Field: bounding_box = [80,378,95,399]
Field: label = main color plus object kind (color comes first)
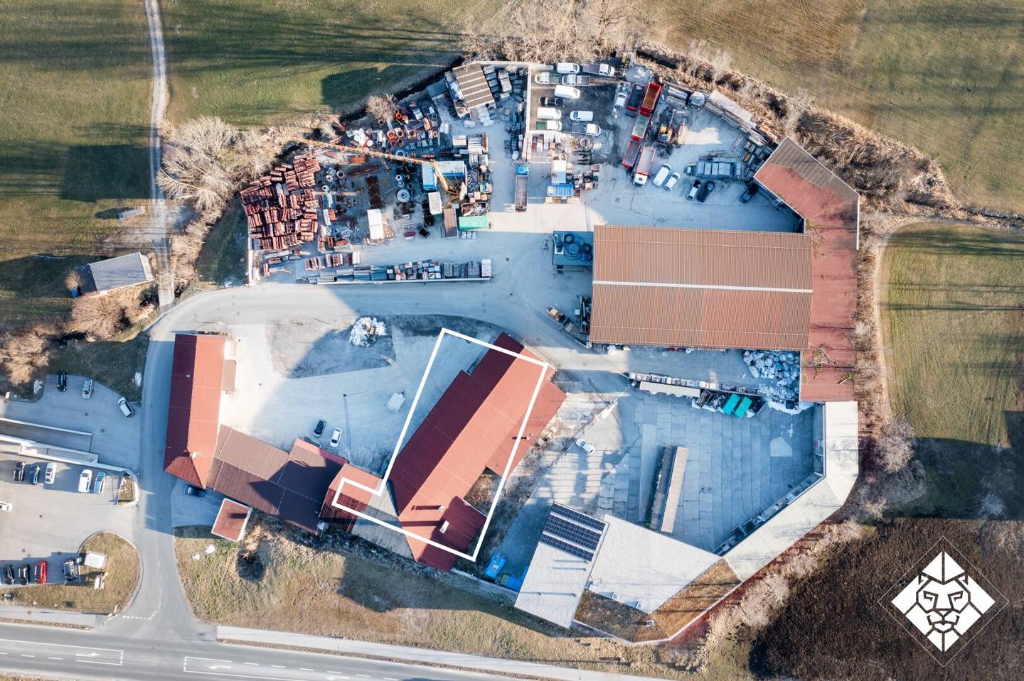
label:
blue car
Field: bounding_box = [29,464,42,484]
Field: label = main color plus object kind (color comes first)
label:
blue vehicle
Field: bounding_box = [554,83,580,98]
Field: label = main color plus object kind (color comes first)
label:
white vehicle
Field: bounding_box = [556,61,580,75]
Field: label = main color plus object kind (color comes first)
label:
white vehicle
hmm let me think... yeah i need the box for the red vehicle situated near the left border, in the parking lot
[34,562,48,584]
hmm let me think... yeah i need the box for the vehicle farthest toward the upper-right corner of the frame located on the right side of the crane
[738,185,757,204]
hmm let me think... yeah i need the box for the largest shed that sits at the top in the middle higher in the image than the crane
[445,61,496,122]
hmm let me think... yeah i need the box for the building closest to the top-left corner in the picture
[76,252,160,294]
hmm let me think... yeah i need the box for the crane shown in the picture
[305,137,471,203]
